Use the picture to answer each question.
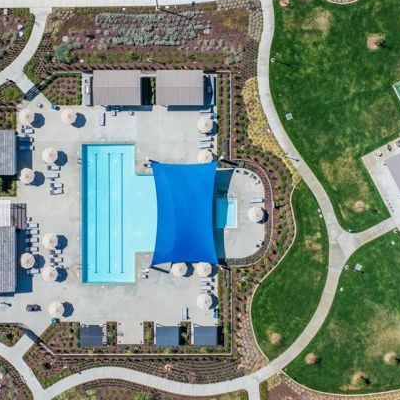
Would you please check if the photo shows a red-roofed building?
No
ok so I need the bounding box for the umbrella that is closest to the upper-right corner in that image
[198,117,214,133]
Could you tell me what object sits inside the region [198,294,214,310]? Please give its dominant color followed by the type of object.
white umbrella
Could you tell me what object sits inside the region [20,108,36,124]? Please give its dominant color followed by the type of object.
white umbrella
